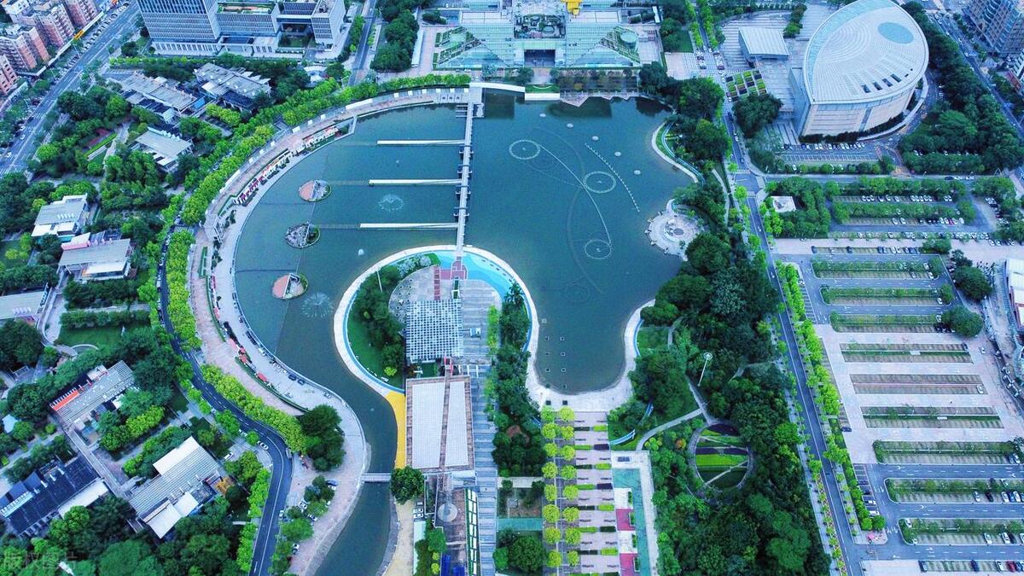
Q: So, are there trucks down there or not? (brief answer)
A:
No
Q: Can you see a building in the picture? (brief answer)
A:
Yes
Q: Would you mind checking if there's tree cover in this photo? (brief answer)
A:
Yes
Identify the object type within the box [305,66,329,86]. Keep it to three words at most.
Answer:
shed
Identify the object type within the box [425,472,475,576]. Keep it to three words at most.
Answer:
building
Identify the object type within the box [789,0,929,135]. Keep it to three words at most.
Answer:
building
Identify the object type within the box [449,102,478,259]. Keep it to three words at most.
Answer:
bridge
